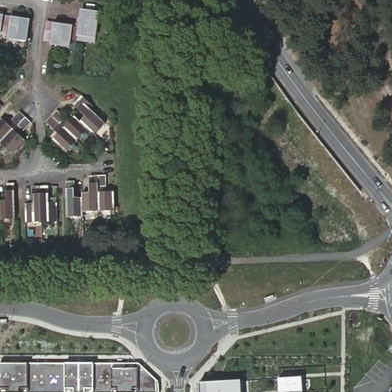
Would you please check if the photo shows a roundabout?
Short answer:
Yes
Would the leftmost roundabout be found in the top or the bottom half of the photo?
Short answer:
bottom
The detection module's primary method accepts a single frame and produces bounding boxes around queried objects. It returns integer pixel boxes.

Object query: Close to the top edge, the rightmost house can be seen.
[72,8,98,44]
